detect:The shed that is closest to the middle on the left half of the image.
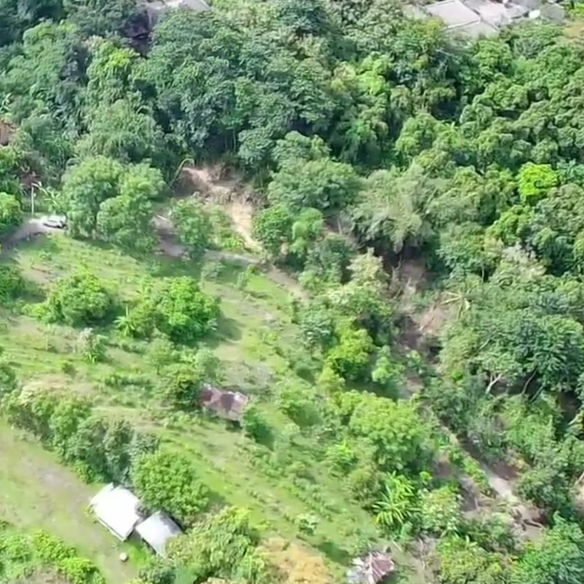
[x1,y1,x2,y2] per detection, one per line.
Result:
[198,385,252,425]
